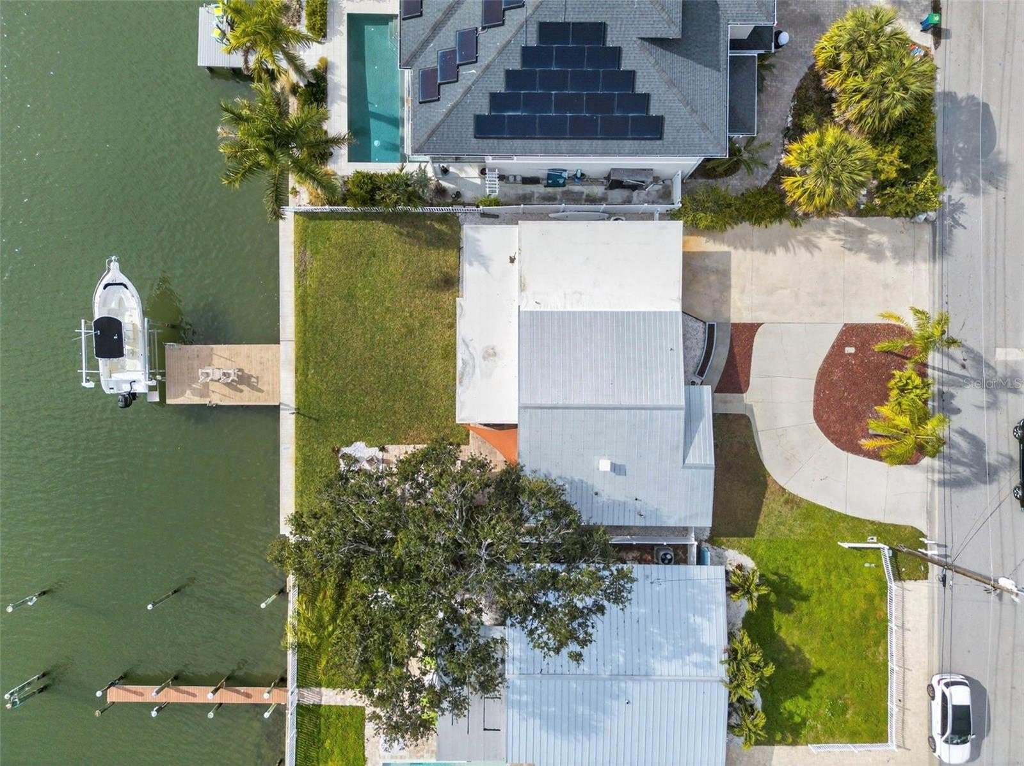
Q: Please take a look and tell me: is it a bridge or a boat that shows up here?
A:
boat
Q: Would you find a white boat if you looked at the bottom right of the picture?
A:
No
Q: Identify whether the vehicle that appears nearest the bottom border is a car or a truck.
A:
car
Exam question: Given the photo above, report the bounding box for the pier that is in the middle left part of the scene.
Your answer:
[165,344,281,408]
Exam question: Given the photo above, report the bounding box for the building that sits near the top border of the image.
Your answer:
[397,0,779,182]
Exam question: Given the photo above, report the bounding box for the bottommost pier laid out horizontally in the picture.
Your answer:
[107,680,287,703]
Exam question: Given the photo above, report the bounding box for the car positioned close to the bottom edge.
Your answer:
[928,674,976,762]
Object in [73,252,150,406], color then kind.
white boat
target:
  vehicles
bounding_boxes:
[1013,419,1024,514]
[928,674,976,762]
